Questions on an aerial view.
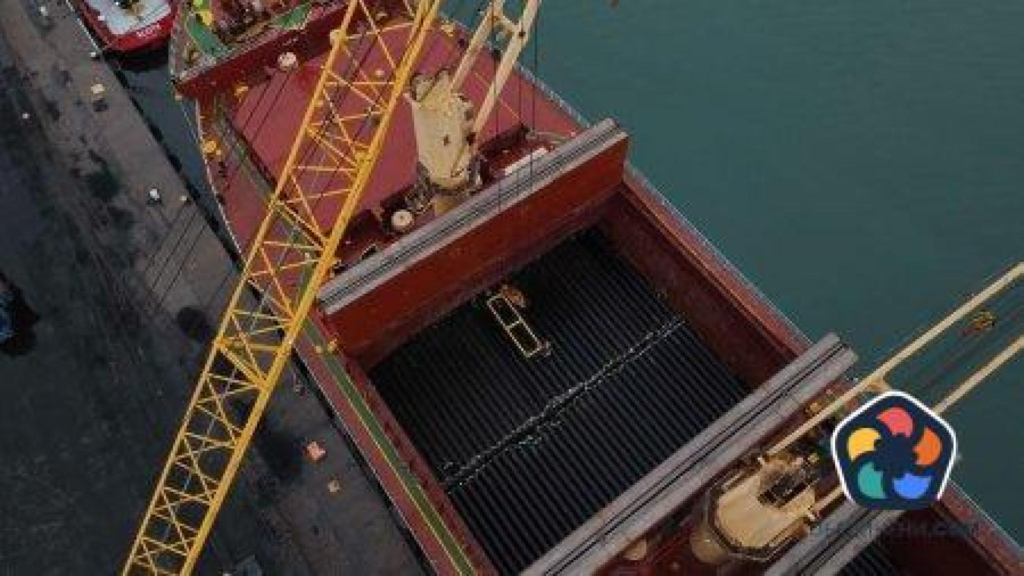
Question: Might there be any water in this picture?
Yes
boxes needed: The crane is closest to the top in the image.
[401,0,548,218]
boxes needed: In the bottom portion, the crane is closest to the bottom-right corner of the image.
[681,259,1024,564]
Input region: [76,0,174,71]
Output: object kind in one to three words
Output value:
boat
